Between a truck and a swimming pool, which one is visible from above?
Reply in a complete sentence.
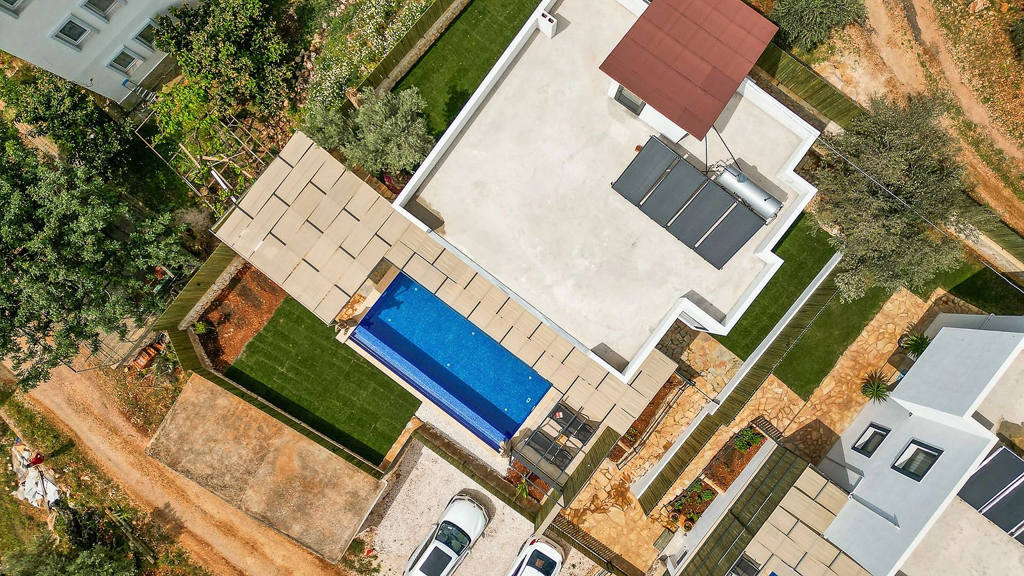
Looking from above, you can make out a swimming pool.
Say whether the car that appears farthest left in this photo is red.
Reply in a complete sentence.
No, from above the car that appears farthest left looks white.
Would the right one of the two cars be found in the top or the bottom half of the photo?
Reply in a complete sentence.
The bottom half of the photo is where the right one of the two cars is.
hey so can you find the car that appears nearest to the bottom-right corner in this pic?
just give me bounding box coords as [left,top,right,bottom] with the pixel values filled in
[507,536,568,576]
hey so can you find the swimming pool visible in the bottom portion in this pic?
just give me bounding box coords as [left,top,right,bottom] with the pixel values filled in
[330,265,561,463]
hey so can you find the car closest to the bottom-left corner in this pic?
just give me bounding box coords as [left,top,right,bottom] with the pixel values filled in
[402,493,492,576]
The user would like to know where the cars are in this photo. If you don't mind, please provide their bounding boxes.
[507,536,568,576]
[402,493,492,576]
